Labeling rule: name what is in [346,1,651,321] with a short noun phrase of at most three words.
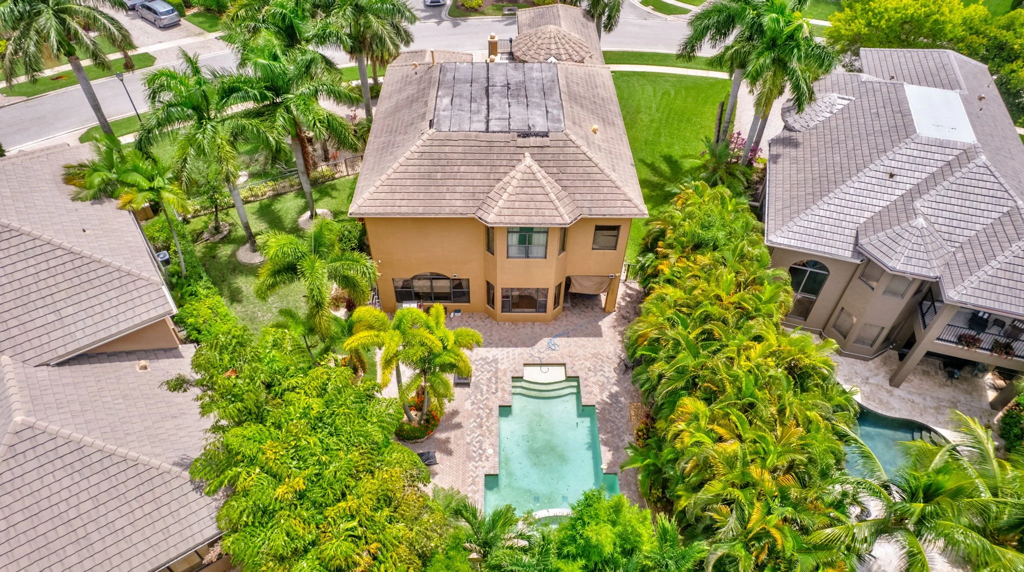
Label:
house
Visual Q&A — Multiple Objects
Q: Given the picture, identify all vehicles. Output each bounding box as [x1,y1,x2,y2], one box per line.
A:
[133,0,178,24]
[120,0,140,9]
